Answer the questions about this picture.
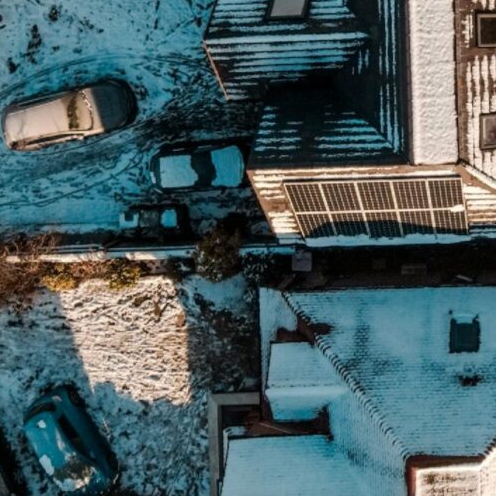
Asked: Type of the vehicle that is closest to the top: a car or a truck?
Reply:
car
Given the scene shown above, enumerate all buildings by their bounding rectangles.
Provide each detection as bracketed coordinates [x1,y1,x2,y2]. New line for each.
[219,246,496,496]
[199,0,496,245]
